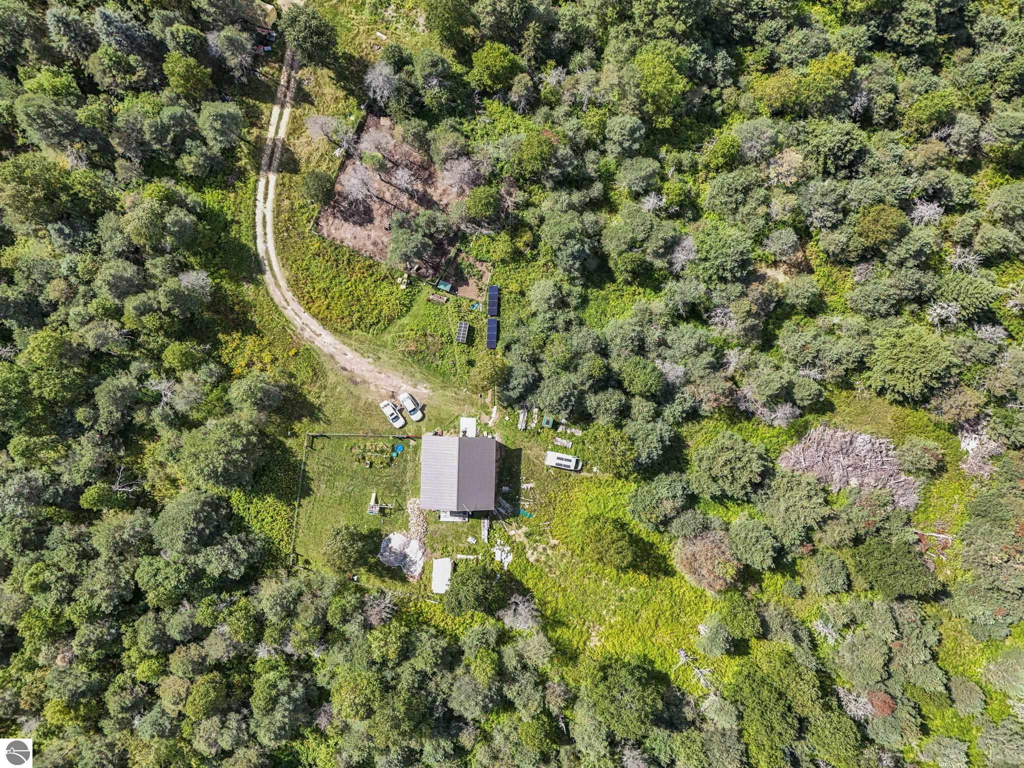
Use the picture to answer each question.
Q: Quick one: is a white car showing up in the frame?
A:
Yes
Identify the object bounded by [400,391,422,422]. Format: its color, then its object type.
white car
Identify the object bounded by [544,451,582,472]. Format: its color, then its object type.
white vehicle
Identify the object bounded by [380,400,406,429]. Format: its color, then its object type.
white car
